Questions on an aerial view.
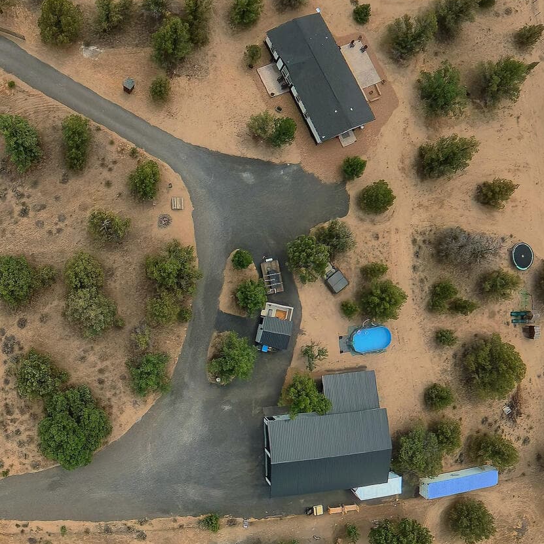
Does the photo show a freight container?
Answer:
Yes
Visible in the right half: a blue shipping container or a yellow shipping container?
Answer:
blue shipping container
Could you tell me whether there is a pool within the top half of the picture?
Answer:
No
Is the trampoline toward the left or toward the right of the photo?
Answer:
right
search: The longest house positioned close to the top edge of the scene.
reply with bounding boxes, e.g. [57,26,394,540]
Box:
[265,13,375,146]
